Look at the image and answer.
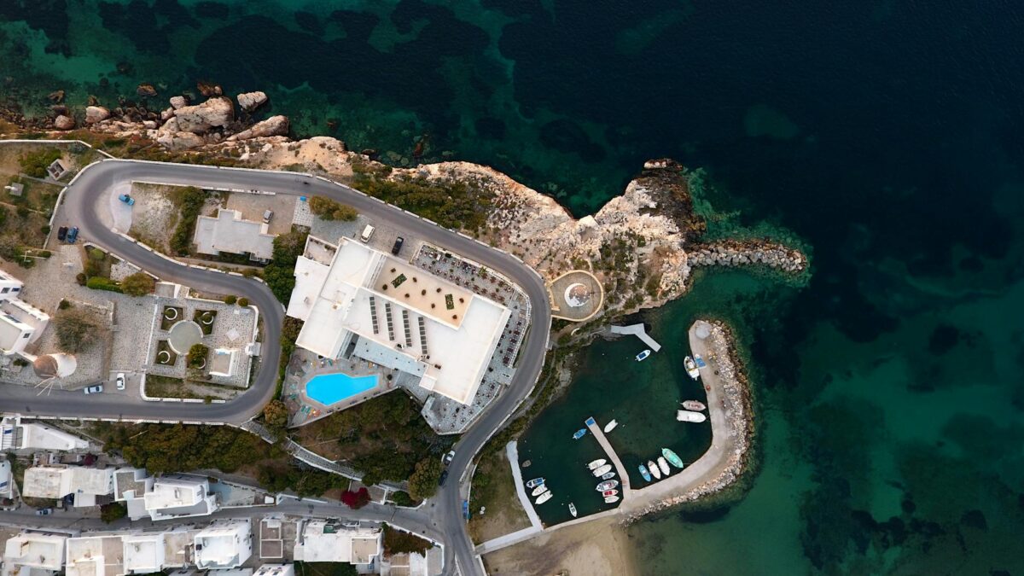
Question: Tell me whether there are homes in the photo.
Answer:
Yes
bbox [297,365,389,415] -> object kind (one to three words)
swimming pool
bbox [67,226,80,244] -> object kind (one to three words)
vehicle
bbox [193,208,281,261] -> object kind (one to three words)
house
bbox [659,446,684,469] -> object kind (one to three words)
boat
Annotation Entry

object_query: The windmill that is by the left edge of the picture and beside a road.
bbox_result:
[28,353,78,393]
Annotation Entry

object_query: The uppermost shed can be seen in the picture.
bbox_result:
[48,160,74,182]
